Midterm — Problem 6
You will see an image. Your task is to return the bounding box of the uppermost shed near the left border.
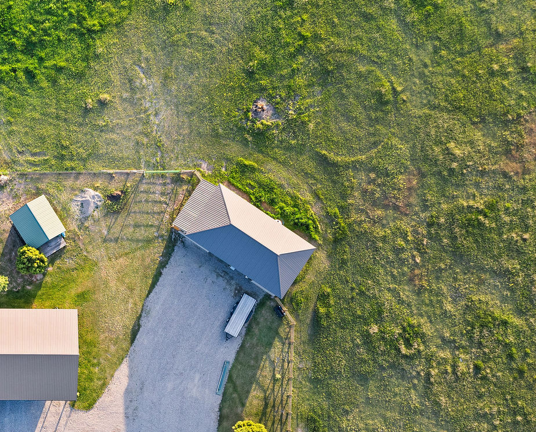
[10,195,66,247]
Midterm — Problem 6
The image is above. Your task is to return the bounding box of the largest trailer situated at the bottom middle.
[224,293,256,343]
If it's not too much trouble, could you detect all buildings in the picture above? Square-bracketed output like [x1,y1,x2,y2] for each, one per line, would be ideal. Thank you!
[0,307,78,401]
[173,180,317,300]
[10,195,66,247]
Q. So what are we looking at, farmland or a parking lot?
farmland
